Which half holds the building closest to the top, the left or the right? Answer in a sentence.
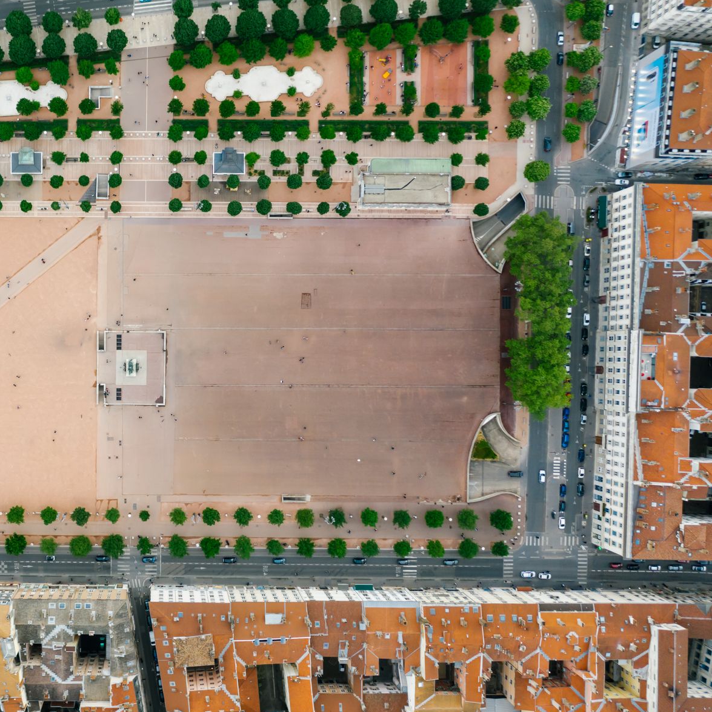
The building closest to the top appears in the right half of the scene.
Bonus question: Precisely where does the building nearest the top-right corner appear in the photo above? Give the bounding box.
[642,0,712,33]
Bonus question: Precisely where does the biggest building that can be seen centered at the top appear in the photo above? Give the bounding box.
[355,159,453,210]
